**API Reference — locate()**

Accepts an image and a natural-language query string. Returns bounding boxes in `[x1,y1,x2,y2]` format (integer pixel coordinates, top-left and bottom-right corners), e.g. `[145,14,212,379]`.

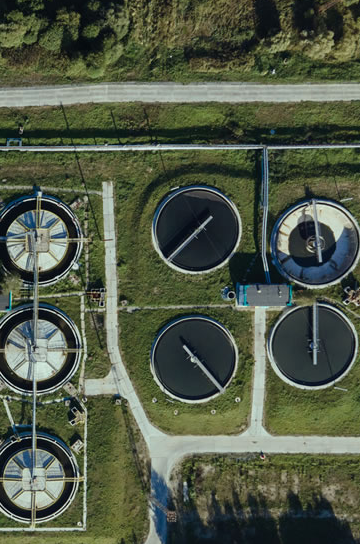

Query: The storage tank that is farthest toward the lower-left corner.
[0,432,84,529]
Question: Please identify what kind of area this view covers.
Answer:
industrial area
